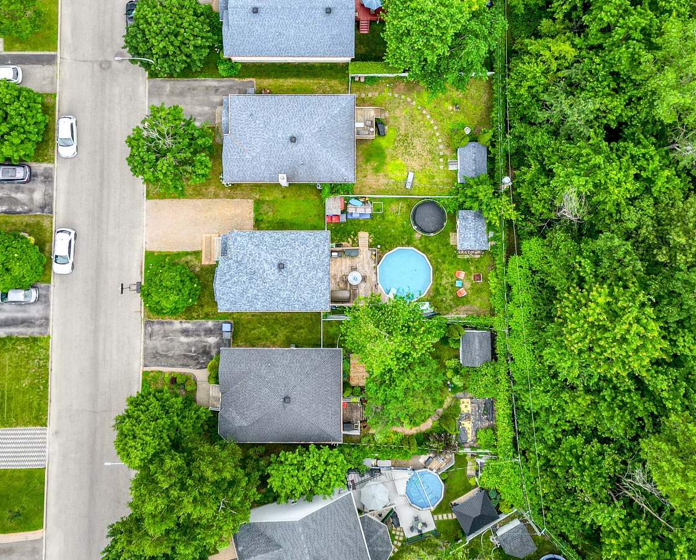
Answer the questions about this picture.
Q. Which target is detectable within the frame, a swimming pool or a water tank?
swimming pool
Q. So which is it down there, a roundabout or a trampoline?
trampoline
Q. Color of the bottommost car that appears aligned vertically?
white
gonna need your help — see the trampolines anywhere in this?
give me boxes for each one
[410,199,446,235]
[537,551,562,560]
